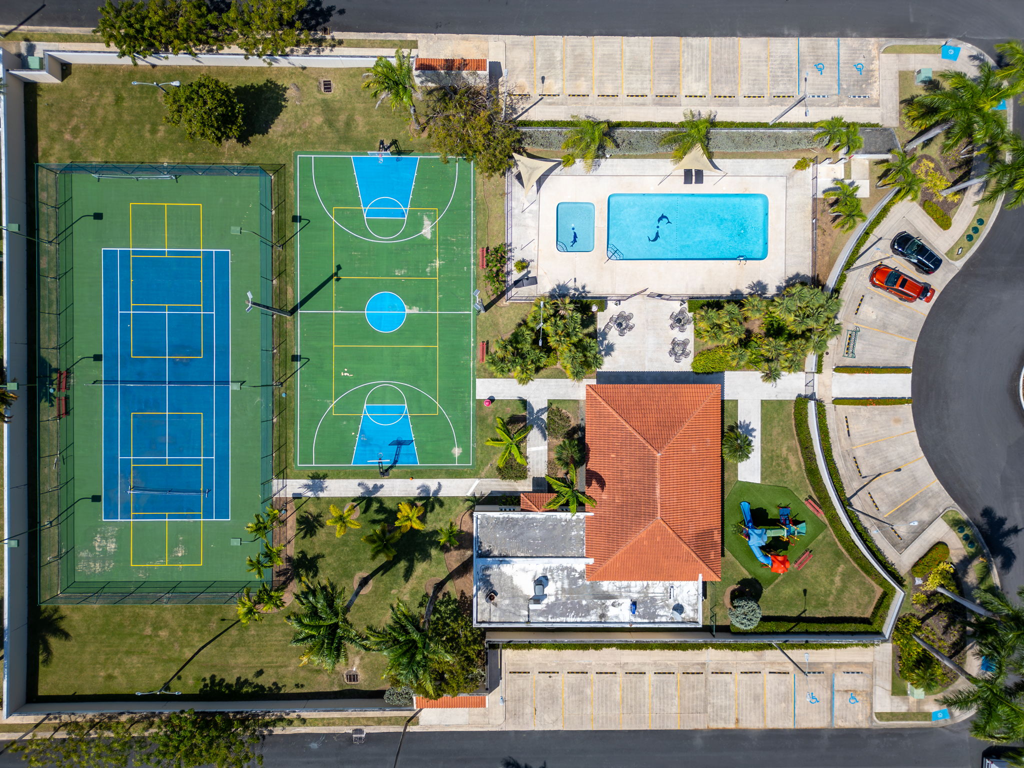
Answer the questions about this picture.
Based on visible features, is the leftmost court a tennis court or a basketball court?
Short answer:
tennis court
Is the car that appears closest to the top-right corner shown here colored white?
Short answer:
No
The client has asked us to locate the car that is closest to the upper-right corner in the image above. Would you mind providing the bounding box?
[887,231,947,275]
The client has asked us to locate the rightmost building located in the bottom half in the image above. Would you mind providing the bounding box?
[473,383,723,626]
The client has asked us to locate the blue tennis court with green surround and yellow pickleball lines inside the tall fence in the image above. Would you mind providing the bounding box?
[59,173,261,595]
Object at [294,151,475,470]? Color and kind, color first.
green basketball court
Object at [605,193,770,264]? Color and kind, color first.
blue swimming pool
